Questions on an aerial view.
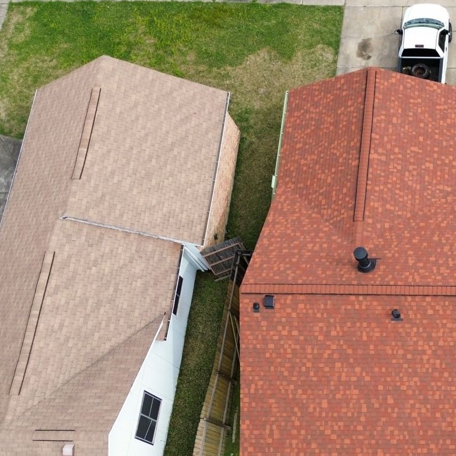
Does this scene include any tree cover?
No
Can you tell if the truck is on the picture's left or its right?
right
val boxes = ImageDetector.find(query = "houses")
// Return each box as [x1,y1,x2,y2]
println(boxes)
[0,59,239,456]
[239,68,456,456]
